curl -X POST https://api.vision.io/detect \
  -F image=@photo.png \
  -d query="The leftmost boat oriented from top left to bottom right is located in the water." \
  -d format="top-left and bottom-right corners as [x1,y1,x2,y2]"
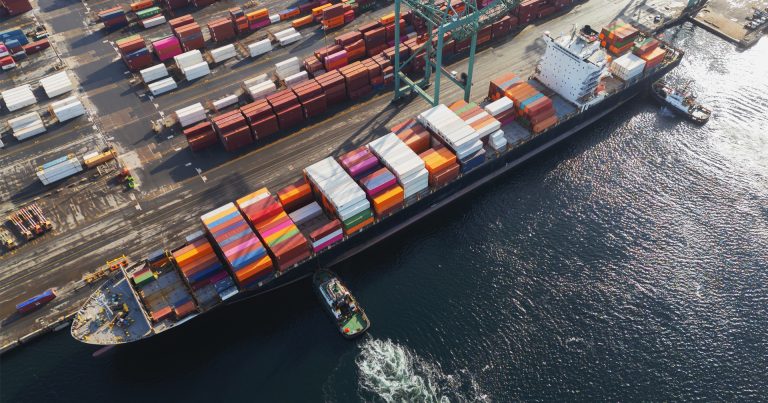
[311,269,370,339]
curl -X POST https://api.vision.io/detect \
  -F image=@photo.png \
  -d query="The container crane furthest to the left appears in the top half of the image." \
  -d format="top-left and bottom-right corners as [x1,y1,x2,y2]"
[392,0,527,110]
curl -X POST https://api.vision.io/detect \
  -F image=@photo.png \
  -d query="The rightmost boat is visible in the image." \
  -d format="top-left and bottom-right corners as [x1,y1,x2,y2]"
[648,86,712,125]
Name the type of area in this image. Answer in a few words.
port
